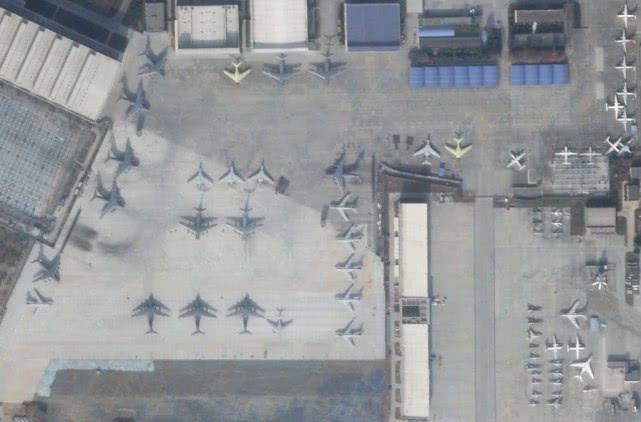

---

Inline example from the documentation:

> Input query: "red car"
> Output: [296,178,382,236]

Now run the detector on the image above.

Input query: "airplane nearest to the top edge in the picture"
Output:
[619,5,637,27]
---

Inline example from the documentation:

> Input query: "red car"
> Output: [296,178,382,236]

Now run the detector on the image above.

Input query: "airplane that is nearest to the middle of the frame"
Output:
[331,195,357,220]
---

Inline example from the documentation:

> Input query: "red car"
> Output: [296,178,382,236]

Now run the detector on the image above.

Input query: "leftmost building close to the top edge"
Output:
[0,6,121,122]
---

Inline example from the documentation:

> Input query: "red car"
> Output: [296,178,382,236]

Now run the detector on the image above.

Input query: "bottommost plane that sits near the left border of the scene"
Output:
[26,292,53,316]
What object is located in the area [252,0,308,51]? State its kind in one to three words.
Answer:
hangar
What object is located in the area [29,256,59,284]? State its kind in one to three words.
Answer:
airplane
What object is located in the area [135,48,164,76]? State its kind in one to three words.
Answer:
airplane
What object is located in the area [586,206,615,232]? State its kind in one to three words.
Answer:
building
